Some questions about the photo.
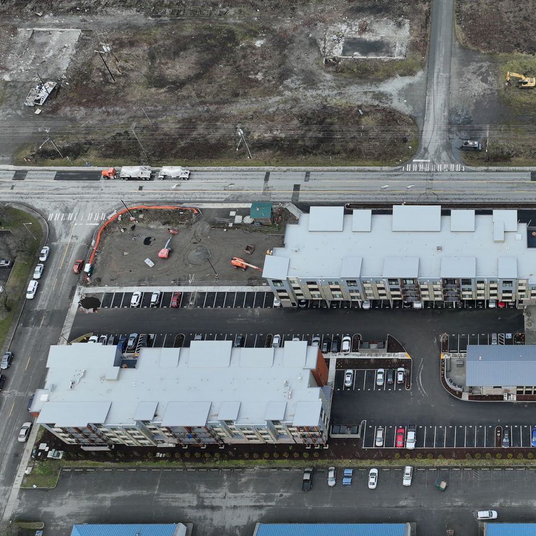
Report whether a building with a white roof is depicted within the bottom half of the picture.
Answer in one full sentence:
Yes, a building with a white roof appears within the bottom half of the picture.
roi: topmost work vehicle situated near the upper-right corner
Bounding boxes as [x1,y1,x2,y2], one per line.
[500,70,536,87]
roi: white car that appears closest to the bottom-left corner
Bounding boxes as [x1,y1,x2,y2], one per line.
[17,423,32,442]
